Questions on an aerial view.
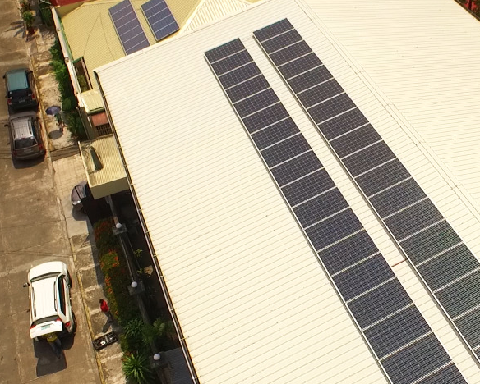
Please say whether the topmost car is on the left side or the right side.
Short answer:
left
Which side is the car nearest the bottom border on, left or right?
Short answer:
left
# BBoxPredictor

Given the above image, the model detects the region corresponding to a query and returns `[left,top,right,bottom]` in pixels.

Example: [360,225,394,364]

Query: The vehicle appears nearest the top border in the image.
[0,70,40,117]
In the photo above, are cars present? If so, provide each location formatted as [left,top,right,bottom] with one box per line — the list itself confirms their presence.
[0,70,40,117]
[67,186,135,218]
[26,265,81,353]
[5,114,47,165]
